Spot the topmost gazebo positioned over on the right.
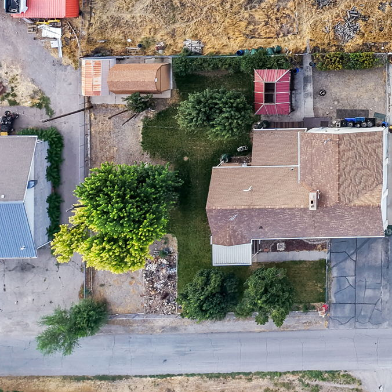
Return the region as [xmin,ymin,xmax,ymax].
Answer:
[254,67,296,116]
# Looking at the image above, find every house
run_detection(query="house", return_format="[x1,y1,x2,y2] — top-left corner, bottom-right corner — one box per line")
[206,124,392,267]
[0,135,52,260]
